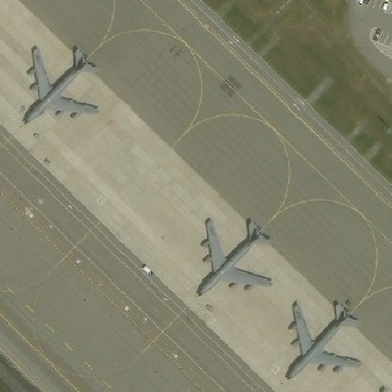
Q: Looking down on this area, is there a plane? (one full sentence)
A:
Yes, a plane can be made out from above.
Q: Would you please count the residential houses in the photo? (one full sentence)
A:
There are no residential houses in this view.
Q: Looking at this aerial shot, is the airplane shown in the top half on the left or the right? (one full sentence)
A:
You can find the airplane shown in the top half on the left side of the picture.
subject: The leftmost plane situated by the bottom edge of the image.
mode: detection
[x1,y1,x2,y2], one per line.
[287,302,362,378]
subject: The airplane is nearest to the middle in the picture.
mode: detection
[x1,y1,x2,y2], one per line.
[199,220,273,295]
